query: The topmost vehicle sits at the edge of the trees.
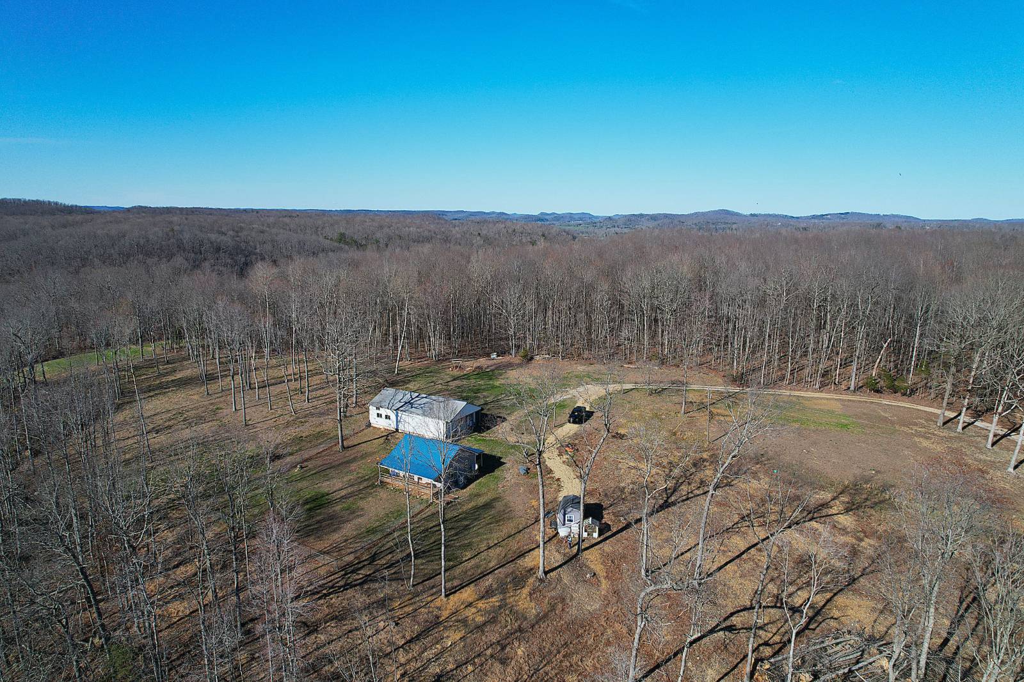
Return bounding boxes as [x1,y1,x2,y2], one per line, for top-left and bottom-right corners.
[568,407,585,423]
